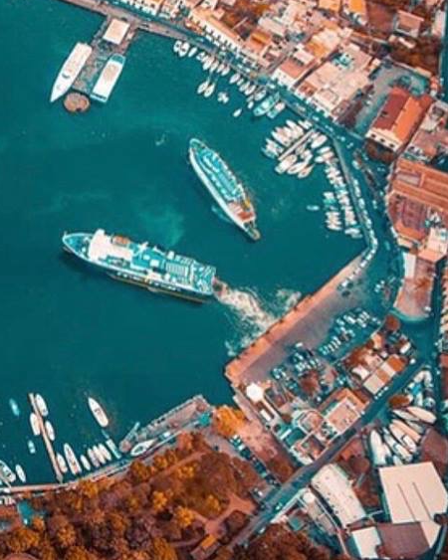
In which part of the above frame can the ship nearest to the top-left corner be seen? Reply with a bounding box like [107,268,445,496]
[50,43,89,102]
